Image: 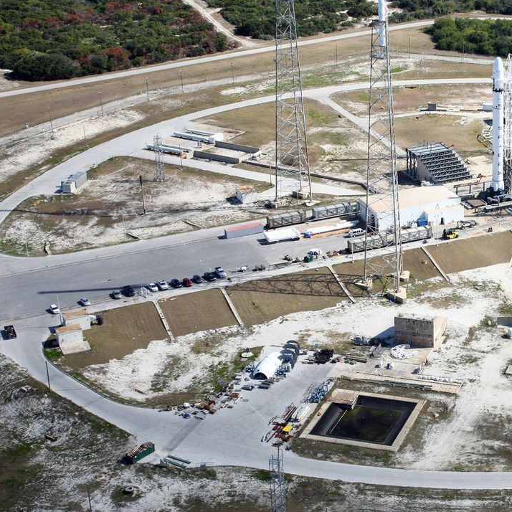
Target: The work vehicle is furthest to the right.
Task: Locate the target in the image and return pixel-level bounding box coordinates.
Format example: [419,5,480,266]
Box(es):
[444,227,459,240]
